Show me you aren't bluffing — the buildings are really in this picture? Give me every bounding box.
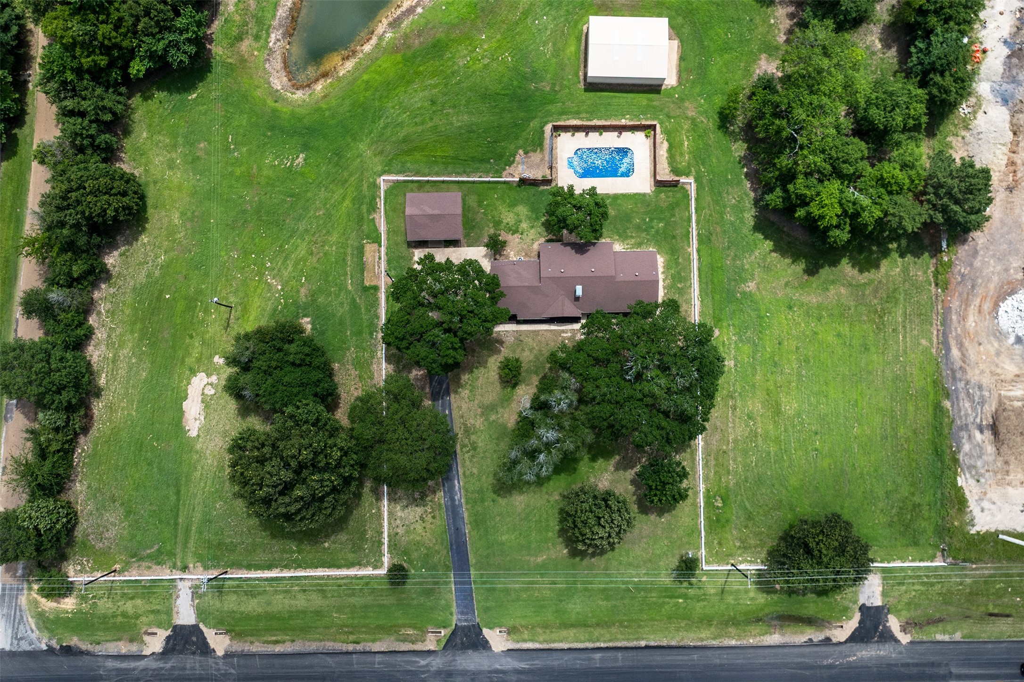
[405,192,462,245]
[586,14,668,85]
[490,241,659,320]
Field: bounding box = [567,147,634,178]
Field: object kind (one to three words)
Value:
swimming pool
